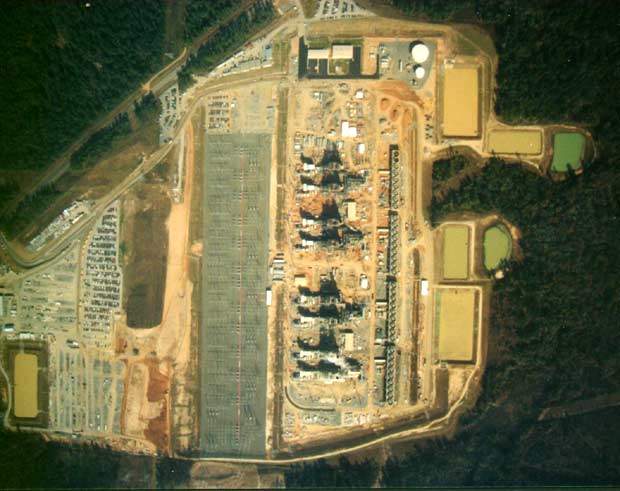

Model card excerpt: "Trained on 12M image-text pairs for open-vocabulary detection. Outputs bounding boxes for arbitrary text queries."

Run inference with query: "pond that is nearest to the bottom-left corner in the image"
[7,346,45,425]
